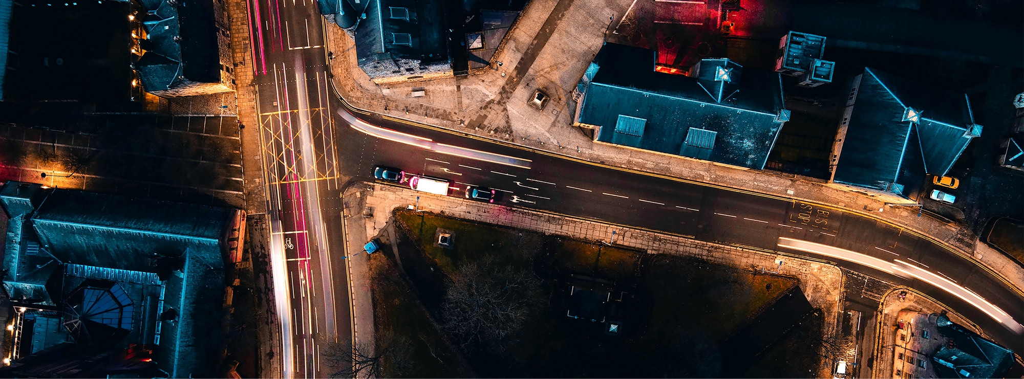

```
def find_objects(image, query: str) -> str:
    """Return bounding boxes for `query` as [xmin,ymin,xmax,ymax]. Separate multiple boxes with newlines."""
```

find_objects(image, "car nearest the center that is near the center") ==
[465,185,497,202]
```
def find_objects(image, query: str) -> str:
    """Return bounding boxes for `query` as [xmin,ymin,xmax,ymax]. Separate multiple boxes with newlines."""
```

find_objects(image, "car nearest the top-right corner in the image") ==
[935,174,966,190]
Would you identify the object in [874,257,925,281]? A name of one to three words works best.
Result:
vehicle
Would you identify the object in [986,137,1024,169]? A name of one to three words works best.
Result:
house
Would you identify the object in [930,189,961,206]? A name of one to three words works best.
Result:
car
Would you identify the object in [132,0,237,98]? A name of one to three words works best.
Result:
building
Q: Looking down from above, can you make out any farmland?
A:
No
